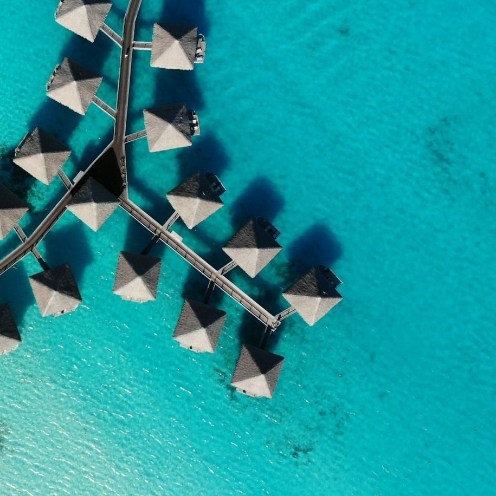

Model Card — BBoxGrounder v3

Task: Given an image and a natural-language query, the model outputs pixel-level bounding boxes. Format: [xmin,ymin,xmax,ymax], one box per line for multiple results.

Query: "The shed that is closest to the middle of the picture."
[222,216,284,278]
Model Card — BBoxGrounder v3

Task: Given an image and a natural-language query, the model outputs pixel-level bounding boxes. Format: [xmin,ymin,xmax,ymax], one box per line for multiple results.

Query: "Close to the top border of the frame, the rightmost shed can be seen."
[149,21,206,72]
